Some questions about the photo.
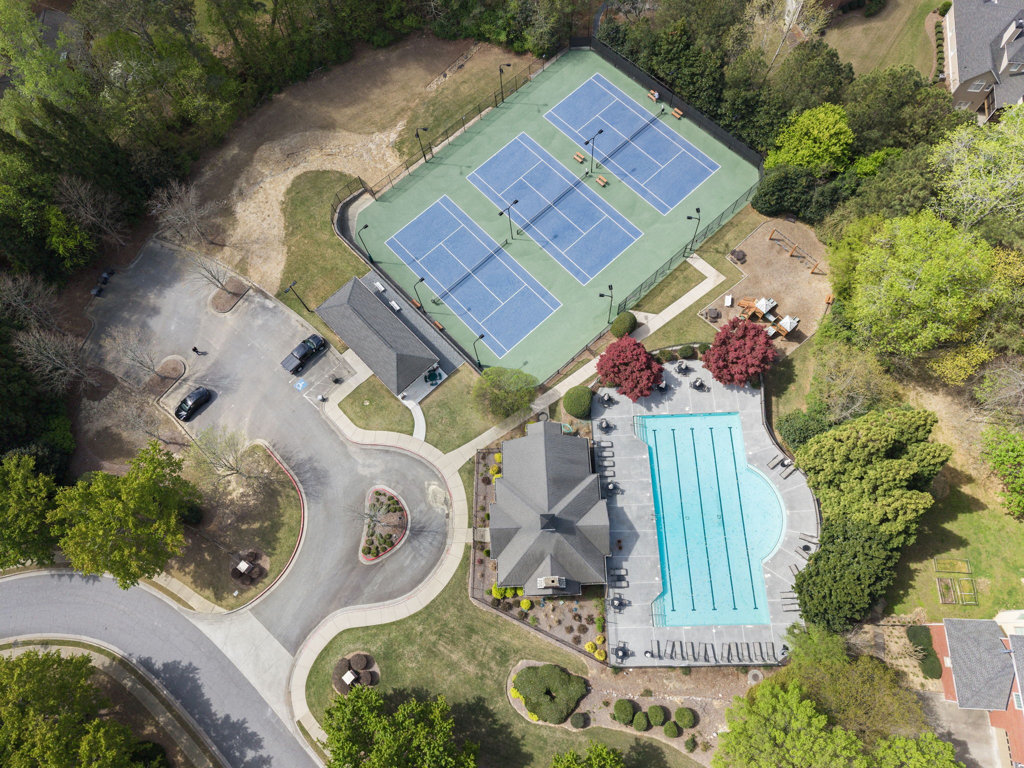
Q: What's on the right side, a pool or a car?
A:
pool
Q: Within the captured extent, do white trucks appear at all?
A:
No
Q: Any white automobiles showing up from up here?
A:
No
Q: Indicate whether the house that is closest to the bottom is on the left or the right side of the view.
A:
right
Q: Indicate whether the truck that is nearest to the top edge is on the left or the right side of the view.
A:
left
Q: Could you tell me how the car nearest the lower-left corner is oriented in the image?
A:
diagonally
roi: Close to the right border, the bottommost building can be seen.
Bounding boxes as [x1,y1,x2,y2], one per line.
[902,608,1024,768]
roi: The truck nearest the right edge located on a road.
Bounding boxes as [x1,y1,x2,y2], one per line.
[279,335,326,373]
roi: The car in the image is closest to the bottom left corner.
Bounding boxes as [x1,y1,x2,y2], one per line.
[176,386,210,419]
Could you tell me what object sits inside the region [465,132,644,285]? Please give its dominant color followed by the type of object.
blue tennis court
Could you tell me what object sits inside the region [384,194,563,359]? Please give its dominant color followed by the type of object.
blue tennis court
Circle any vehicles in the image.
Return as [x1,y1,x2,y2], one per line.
[279,335,326,373]
[176,386,210,419]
